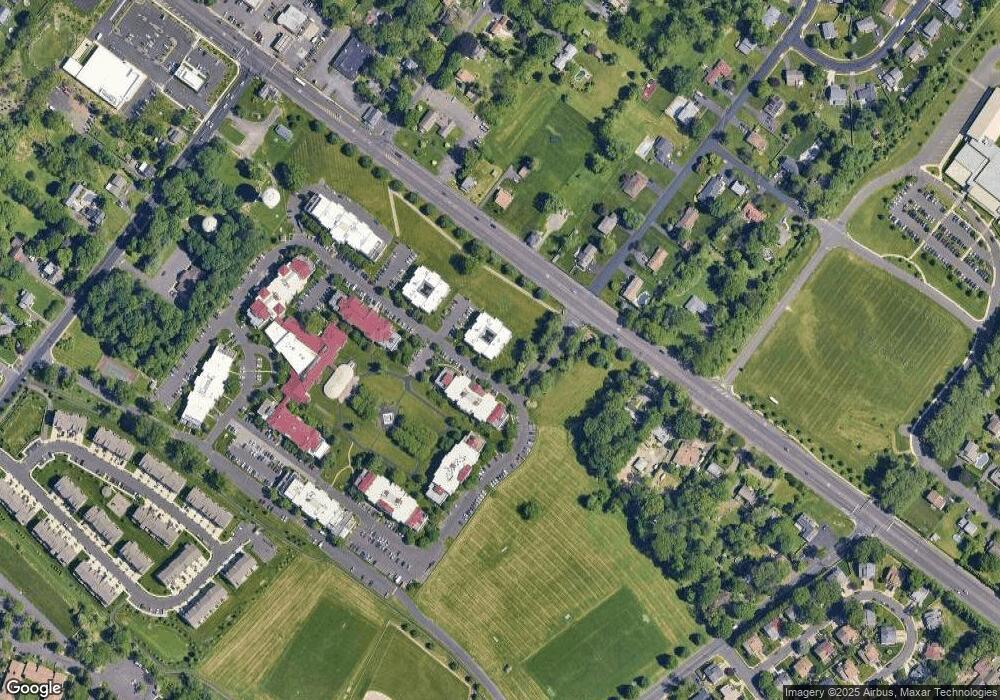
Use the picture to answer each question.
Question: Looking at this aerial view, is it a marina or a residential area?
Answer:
residential area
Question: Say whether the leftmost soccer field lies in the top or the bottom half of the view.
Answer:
bottom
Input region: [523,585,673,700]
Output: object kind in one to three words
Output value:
soccer field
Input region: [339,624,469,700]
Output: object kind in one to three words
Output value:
baseball field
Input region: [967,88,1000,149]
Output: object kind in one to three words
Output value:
building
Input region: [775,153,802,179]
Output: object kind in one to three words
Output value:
house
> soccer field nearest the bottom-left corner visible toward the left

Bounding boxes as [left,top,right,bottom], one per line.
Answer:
[258,594,381,700]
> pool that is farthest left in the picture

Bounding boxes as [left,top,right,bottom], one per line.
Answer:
[571,67,592,86]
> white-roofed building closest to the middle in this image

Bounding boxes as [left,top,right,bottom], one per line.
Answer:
[462,311,516,362]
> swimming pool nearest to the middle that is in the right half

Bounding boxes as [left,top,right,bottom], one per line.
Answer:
[636,291,651,308]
